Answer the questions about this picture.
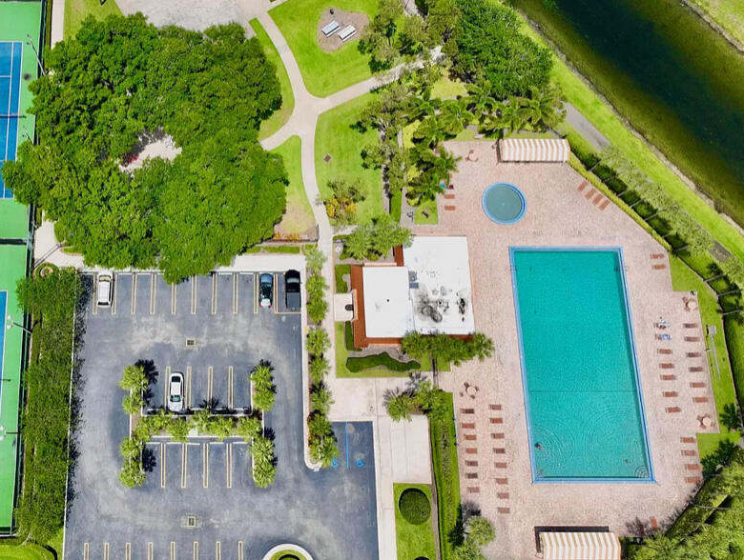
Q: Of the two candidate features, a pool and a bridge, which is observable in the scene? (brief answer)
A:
pool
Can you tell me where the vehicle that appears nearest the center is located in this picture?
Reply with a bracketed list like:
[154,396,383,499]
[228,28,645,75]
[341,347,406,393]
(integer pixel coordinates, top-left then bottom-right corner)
[284,269,302,311]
